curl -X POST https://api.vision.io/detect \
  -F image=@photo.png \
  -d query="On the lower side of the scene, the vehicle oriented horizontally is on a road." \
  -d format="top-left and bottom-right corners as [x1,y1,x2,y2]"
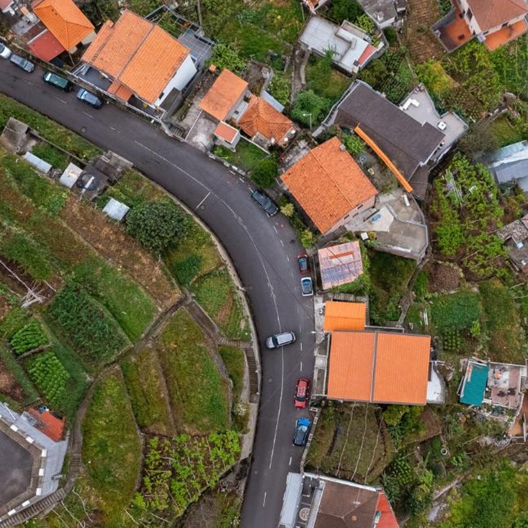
[265,333,295,347]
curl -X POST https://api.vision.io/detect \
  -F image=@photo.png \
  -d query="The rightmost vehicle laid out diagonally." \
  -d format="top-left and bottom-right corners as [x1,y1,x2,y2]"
[250,187,278,216]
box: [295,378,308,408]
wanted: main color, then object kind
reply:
red vehicle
